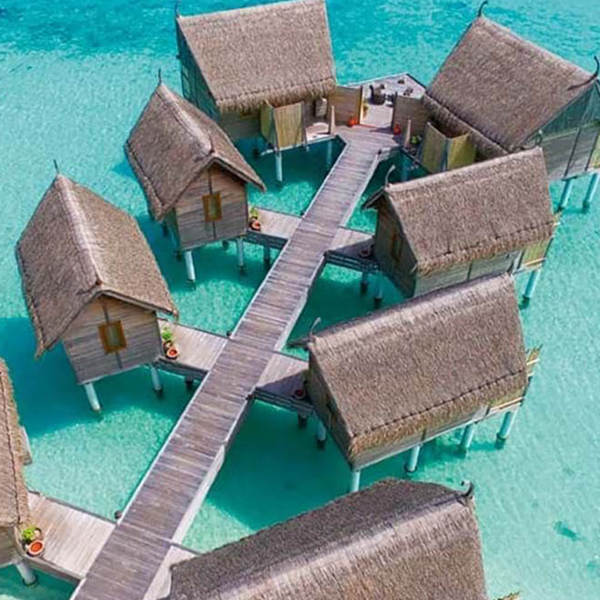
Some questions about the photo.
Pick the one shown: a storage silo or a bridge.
bridge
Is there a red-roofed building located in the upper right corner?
No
